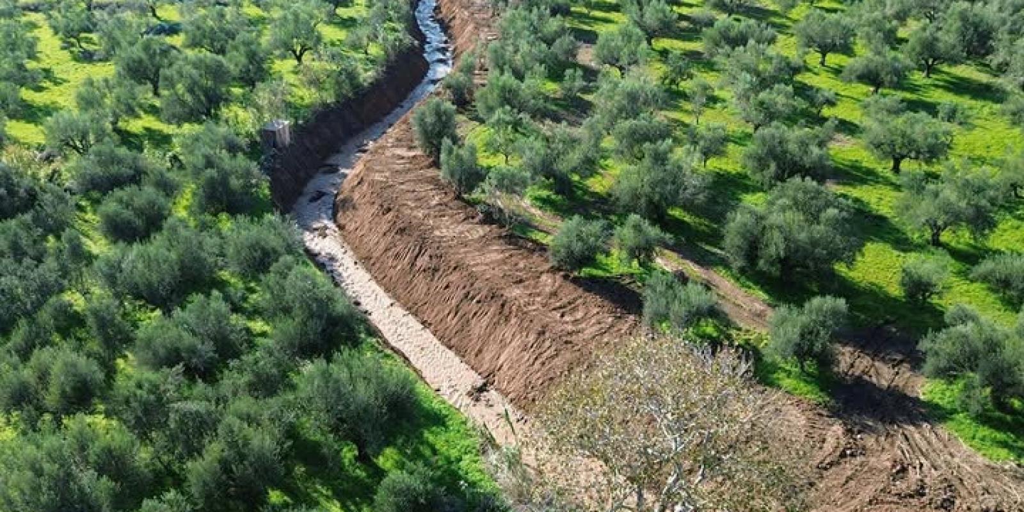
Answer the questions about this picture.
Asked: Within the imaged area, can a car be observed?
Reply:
No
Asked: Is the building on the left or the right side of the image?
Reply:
left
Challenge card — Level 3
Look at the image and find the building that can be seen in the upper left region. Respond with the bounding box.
[263,116,290,151]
